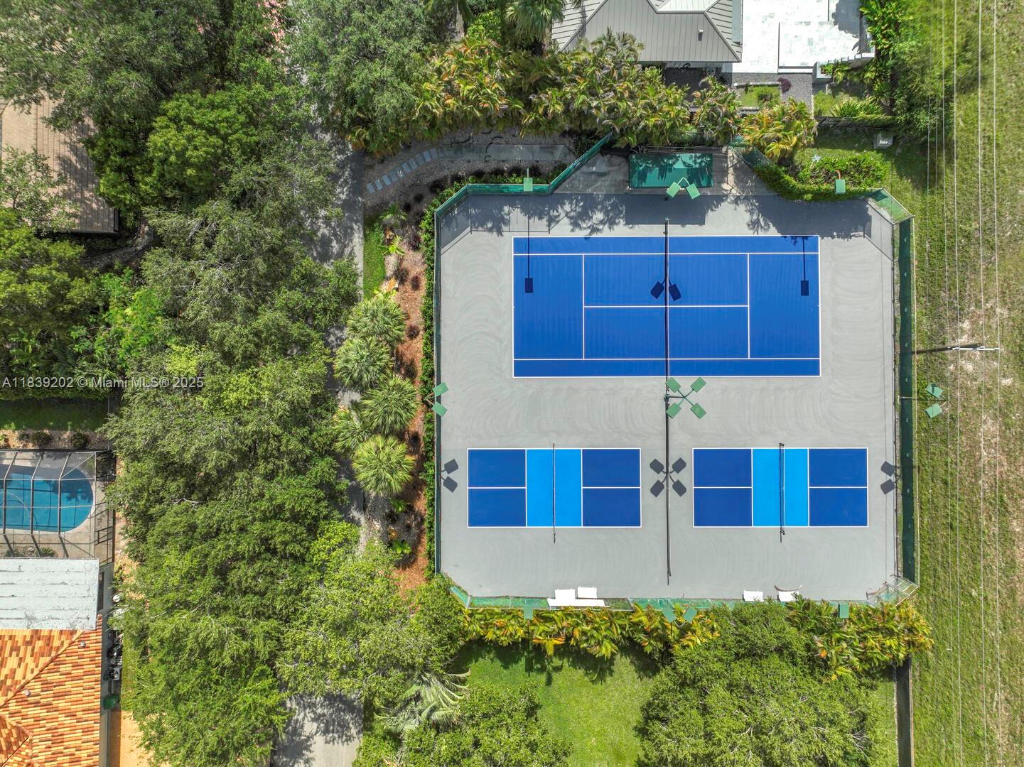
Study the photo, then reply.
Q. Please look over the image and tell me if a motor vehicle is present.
No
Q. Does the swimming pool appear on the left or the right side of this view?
left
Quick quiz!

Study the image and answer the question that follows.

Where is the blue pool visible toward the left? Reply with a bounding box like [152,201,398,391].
[0,460,98,535]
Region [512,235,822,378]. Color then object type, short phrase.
blue tennis court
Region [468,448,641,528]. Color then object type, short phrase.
blue sports court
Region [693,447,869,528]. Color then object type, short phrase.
blue sports court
